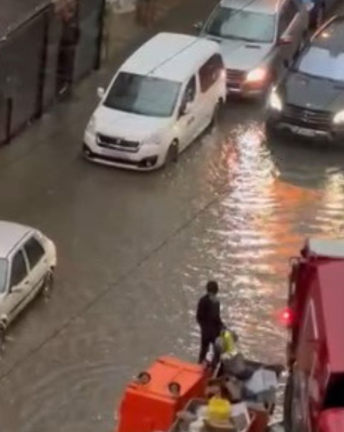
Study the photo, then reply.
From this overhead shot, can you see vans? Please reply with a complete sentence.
Yes, there's a van here.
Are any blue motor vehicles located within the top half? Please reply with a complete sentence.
No, I can find no blue motor vehicle within the top half.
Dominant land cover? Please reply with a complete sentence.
What you mostly see from above here is water.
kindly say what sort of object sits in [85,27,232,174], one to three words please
van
